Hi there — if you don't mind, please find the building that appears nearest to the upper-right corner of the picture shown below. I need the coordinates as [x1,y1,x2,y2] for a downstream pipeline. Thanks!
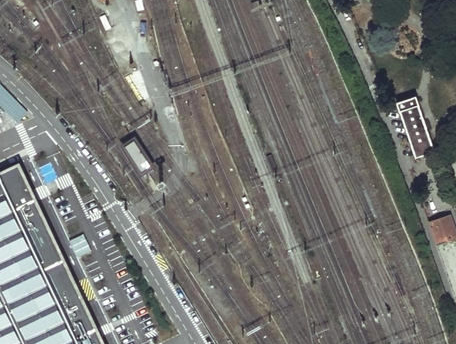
[397,97,434,160]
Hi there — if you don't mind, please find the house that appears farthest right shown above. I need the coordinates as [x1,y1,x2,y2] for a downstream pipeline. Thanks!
[429,216,456,244]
